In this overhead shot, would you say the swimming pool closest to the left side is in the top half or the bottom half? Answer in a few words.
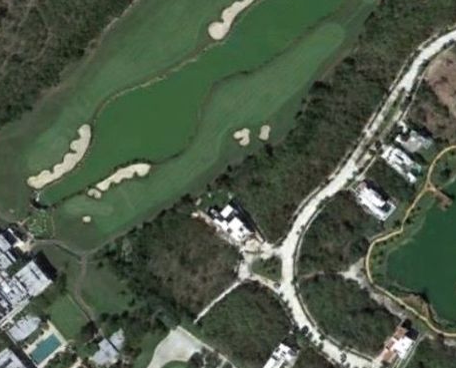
bottom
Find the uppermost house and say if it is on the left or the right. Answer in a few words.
right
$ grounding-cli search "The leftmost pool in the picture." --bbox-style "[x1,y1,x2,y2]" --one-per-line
[25,320,66,368]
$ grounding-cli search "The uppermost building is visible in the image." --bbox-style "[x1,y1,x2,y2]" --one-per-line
[394,130,431,156]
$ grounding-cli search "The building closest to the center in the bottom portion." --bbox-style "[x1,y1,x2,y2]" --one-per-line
[210,203,260,249]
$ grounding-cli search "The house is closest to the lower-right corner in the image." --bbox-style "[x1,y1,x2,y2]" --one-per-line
[382,328,421,368]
